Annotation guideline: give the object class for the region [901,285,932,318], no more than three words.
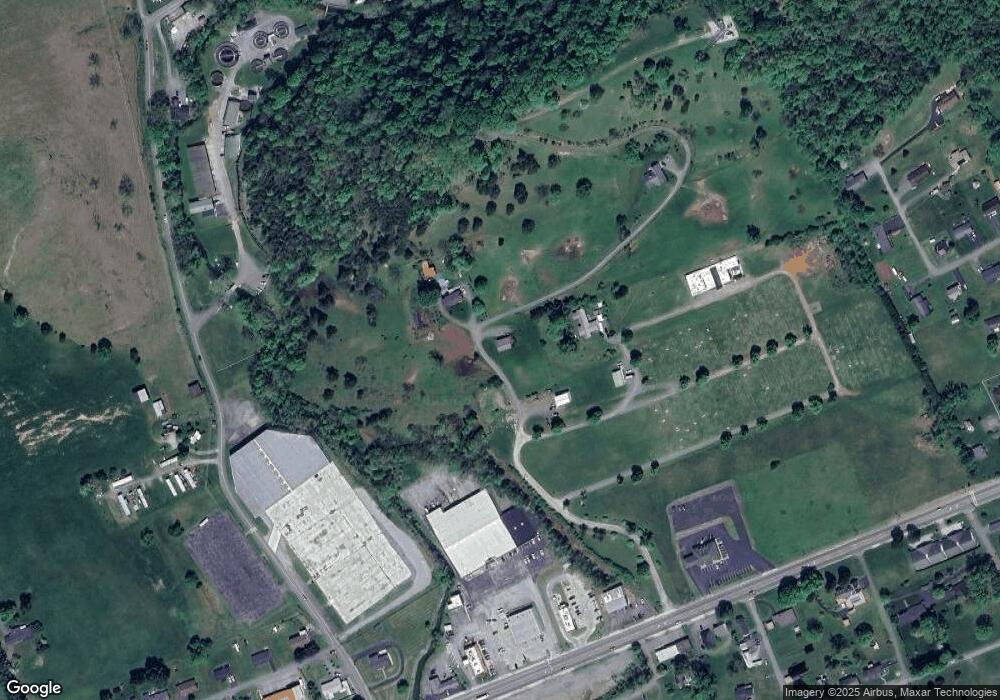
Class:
house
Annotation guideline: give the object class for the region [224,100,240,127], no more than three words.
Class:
building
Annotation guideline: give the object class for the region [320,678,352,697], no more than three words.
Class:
house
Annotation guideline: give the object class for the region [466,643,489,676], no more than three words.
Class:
building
